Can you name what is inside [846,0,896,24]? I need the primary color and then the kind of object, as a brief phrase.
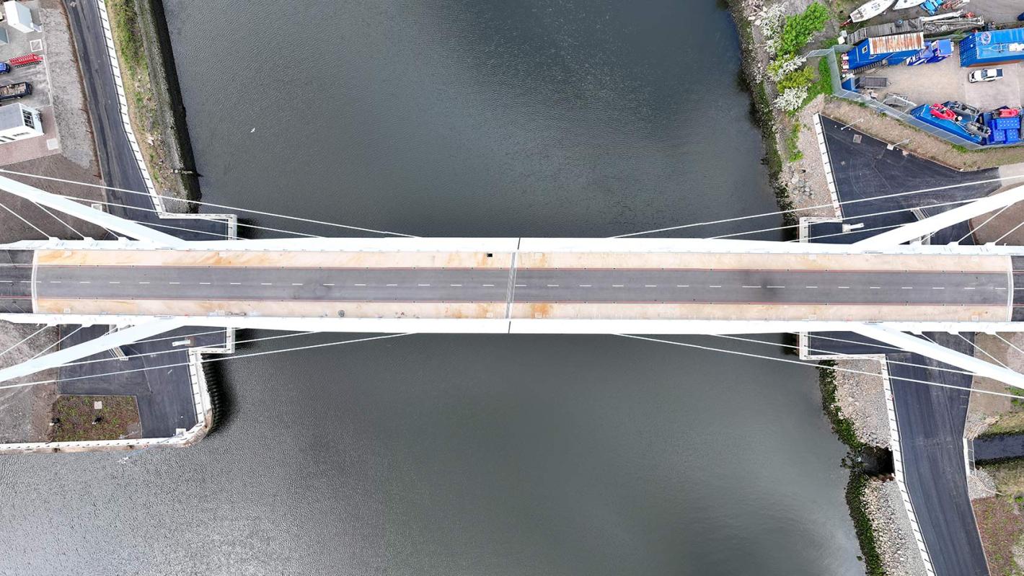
white boat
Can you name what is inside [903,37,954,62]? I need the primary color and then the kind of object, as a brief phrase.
blue truck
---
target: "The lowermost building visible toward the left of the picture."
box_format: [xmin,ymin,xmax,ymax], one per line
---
[0,104,43,143]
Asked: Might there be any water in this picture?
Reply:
Yes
